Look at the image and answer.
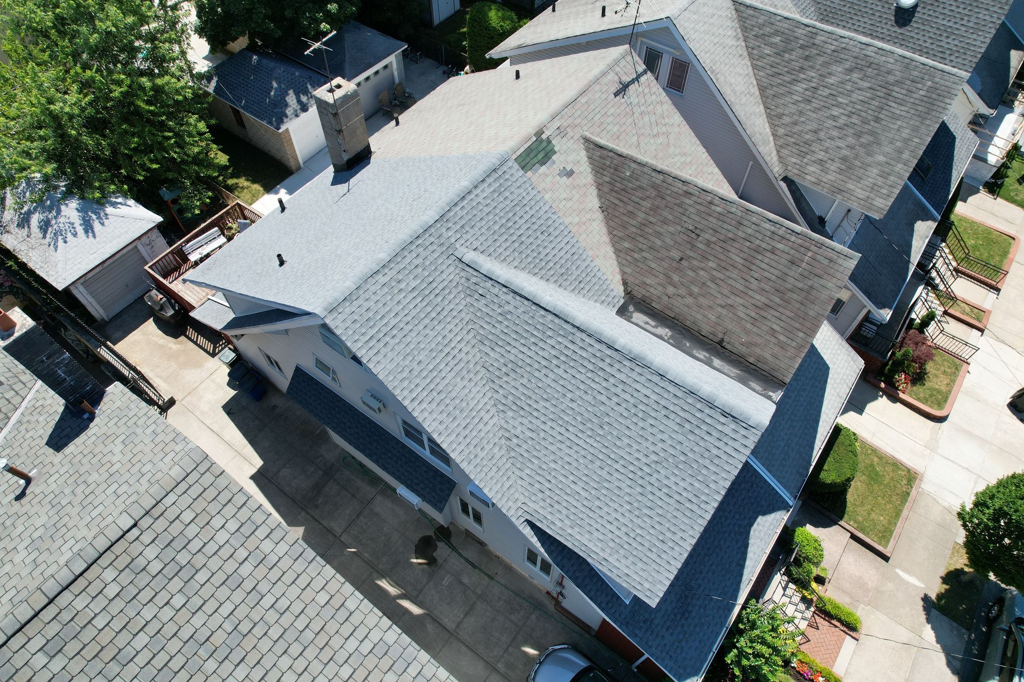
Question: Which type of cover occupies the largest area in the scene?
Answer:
buildings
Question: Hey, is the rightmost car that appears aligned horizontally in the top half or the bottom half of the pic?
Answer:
bottom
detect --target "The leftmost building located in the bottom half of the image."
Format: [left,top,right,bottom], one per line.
[0,286,461,682]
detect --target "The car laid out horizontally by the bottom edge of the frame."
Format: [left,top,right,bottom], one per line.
[526,634,631,682]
